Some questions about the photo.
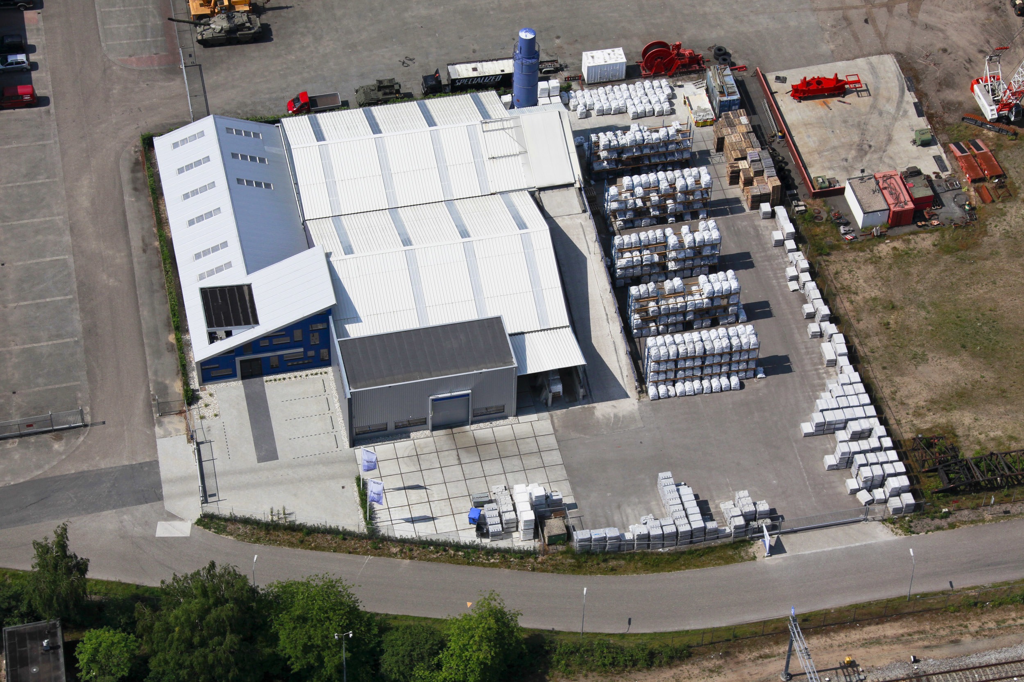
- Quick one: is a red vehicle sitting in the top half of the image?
Yes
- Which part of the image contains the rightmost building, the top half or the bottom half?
top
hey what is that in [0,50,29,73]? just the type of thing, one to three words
car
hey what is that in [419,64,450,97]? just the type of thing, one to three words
truck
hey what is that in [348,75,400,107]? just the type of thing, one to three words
vehicle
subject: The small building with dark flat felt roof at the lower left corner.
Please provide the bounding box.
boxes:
[2,617,67,682]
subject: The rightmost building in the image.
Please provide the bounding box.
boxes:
[848,173,890,229]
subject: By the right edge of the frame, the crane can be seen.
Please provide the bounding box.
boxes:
[962,38,1024,135]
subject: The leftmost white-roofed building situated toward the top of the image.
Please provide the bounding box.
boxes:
[150,113,338,387]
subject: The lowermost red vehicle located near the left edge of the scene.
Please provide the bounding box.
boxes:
[0,83,36,109]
